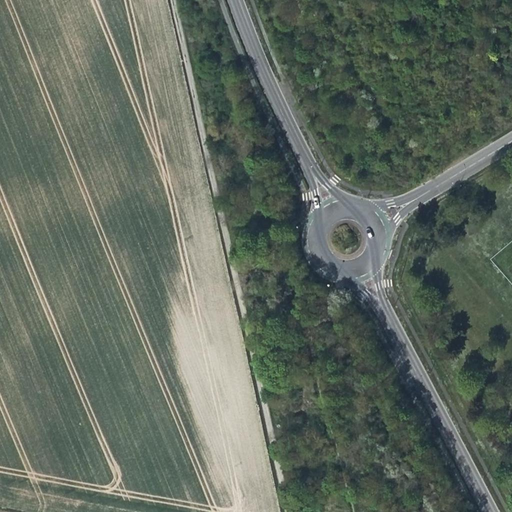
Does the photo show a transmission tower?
No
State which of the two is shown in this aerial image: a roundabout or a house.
roundabout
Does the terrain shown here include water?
No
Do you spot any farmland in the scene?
Yes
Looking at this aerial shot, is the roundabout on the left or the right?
right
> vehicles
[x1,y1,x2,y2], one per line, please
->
[366,228,372,238]
[314,198,320,208]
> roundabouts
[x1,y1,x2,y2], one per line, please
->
[307,189,398,286]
